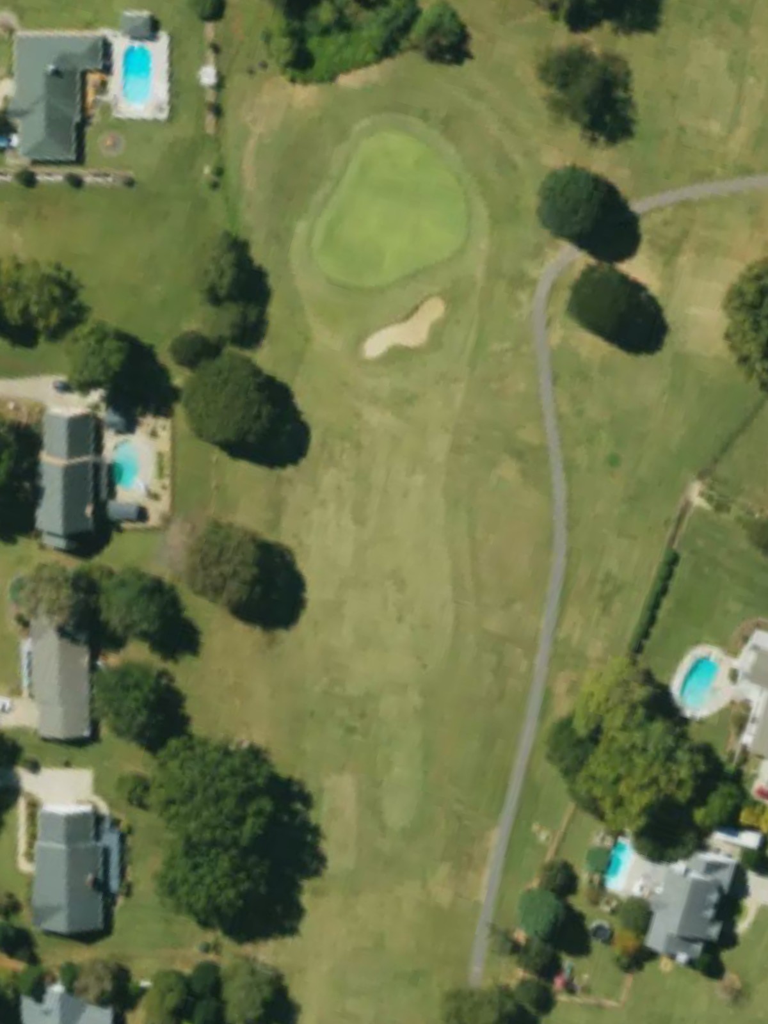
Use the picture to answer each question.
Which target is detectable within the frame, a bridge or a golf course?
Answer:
golf course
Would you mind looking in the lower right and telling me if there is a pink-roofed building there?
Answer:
No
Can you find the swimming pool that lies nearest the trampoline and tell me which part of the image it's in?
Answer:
bottom right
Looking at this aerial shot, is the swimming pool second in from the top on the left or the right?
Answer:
left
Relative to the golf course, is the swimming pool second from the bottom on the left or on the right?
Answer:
on the right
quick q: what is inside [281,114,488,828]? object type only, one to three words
golf course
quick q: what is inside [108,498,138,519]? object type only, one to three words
shed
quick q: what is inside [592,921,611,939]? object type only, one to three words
trampoline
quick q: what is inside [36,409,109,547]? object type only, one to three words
house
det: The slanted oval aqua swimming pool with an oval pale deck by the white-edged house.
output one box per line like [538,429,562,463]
[671,645,745,719]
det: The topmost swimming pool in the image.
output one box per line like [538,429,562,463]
[96,32,169,119]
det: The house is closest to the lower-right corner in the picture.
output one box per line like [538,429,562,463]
[644,848,737,963]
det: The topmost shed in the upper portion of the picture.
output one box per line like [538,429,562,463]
[122,10,151,38]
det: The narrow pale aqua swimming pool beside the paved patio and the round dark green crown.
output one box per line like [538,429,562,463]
[599,833,637,899]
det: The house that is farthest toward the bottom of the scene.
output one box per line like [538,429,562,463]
[16,980,114,1024]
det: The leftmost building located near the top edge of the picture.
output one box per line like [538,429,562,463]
[10,33,103,160]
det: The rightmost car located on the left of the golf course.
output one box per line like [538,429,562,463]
[55,380,81,393]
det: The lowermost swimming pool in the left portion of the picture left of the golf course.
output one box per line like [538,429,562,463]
[104,432,156,502]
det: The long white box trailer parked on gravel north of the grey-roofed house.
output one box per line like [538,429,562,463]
[711,825,762,848]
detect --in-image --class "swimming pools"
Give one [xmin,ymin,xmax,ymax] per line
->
[599,833,637,899]
[671,645,745,719]
[96,32,169,119]
[104,432,156,502]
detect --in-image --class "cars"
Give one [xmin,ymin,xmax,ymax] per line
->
[55,380,81,393]
[757,787,768,800]
[0,699,11,711]
[0,136,18,148]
